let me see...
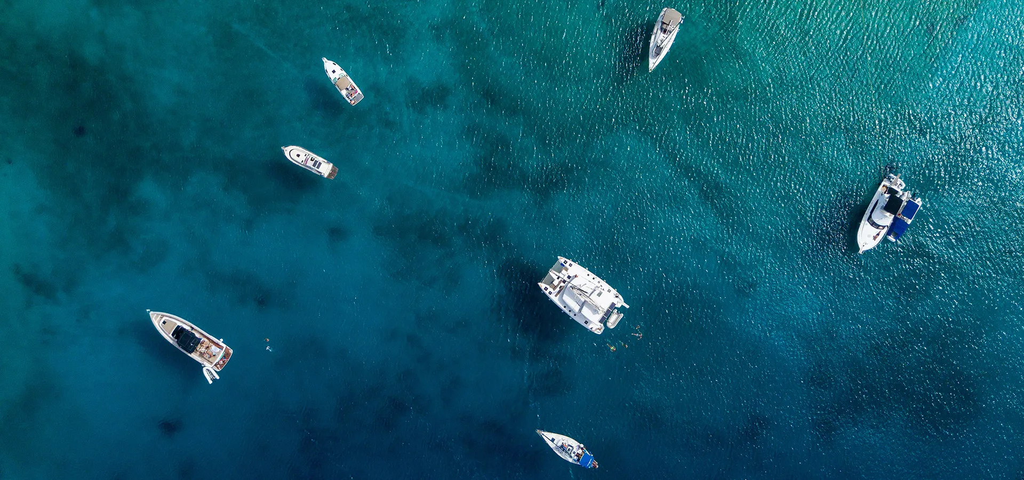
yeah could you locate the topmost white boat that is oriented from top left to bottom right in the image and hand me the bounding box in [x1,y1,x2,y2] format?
[322,58,364,106]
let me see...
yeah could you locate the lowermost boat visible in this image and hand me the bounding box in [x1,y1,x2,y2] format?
[536,429,598,468]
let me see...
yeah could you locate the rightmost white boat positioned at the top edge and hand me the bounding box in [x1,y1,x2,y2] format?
[648,2,685,72]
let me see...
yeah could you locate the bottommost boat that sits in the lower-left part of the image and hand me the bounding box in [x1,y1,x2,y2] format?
[202,366,218,383]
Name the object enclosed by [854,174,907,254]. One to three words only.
boat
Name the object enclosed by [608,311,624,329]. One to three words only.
boat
